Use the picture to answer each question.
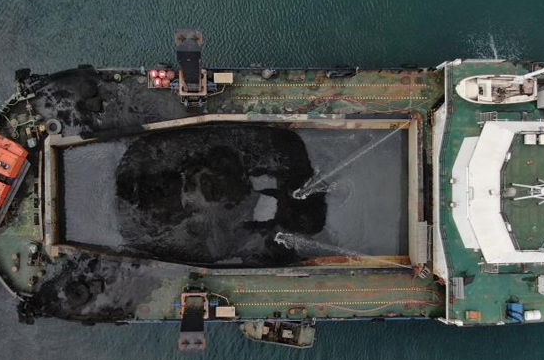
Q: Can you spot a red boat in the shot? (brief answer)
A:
No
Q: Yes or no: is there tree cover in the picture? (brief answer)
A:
No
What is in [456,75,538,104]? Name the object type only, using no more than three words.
boat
